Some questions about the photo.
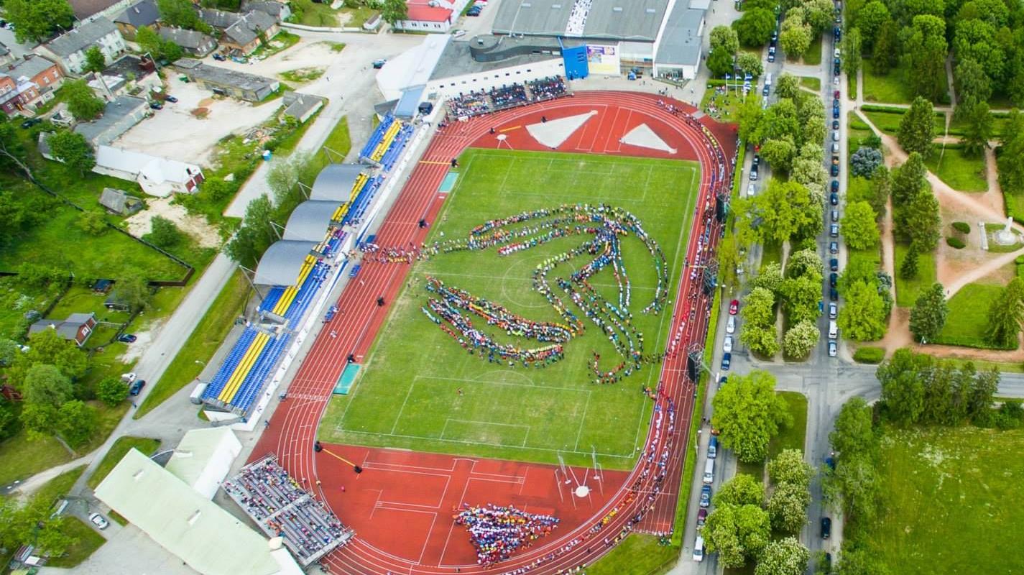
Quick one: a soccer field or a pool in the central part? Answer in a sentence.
You can see a soccer field in the central part.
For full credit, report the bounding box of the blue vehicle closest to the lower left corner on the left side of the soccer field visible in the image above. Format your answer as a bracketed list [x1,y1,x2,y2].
[129,380,149,397]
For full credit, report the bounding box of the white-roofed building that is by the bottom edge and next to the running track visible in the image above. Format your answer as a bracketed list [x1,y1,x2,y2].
[93,425,307,575]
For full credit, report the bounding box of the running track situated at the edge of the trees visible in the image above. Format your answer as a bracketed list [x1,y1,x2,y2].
[251,89,738,575]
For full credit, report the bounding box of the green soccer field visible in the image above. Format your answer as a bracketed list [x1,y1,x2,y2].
[316,150,703,471]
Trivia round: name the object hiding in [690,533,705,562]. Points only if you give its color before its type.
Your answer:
white vehicle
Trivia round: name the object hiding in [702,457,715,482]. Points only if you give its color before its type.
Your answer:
white vehicle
